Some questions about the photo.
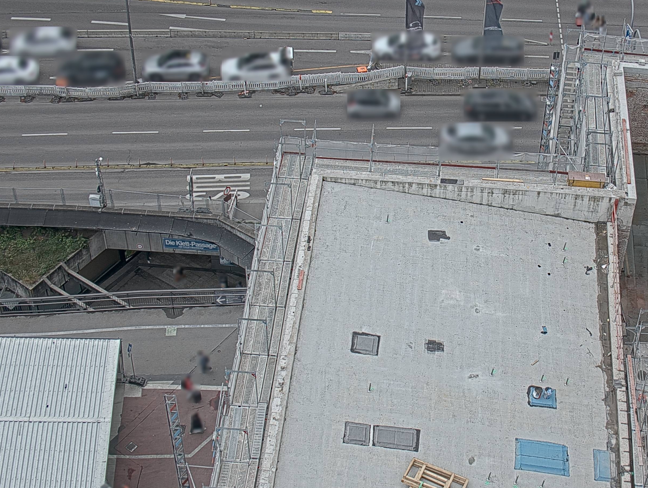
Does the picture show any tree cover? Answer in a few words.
No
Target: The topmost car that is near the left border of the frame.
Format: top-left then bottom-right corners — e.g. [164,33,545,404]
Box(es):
[7,24,78,54]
